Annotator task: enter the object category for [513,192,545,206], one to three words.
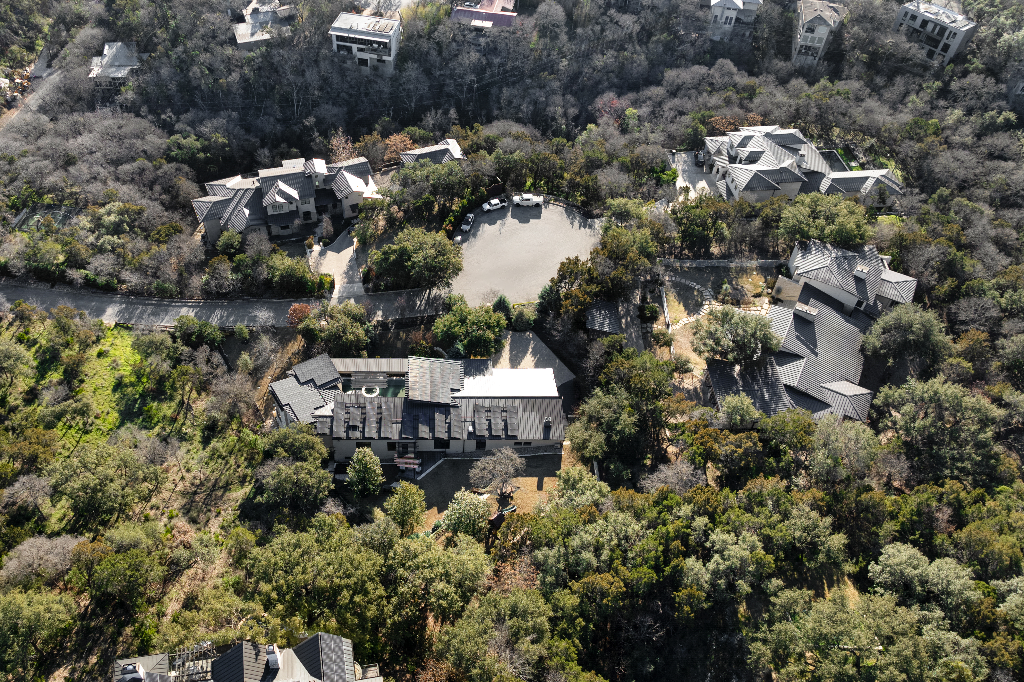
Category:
vehicle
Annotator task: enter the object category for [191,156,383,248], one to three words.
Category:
house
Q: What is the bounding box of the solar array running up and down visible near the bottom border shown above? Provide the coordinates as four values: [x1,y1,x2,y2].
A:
[321,634,347,682]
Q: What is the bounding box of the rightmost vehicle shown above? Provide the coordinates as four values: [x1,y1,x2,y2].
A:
[695,148,707,166]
